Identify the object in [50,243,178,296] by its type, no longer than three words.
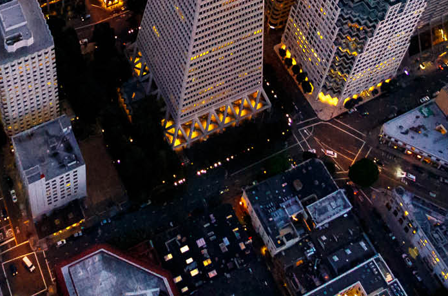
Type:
building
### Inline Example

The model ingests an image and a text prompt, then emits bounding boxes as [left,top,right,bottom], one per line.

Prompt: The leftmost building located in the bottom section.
[11,108,108,247]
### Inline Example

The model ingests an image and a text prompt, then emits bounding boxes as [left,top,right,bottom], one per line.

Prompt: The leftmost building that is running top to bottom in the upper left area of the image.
[0,0,62,136]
